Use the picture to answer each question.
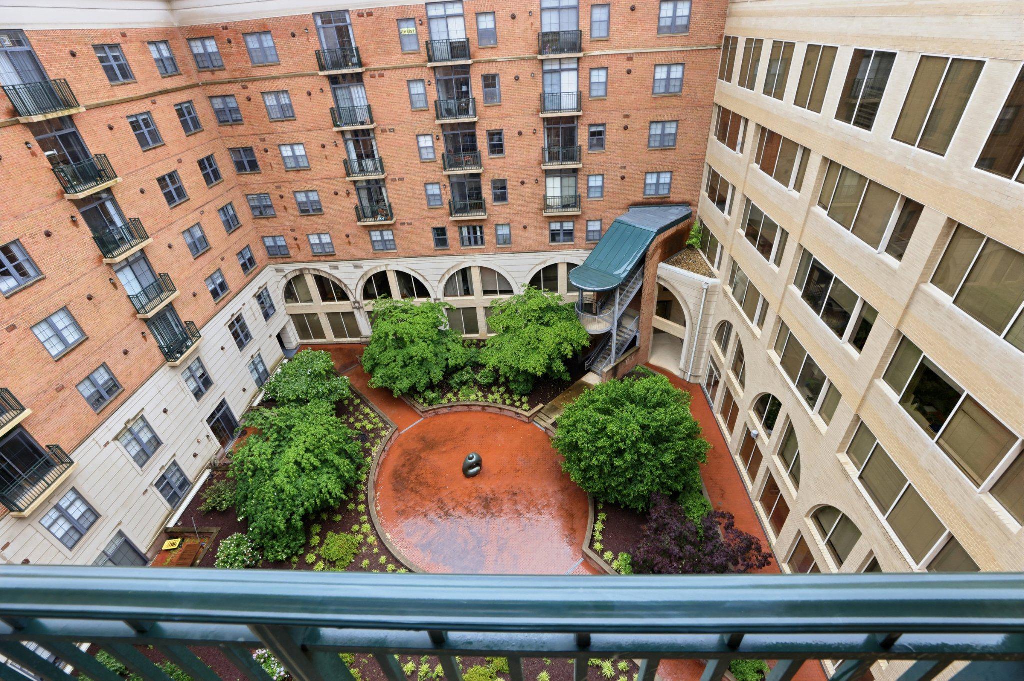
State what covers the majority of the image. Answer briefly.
buildings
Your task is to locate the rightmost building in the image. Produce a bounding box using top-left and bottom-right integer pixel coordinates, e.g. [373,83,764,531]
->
[693,0,1024,574]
